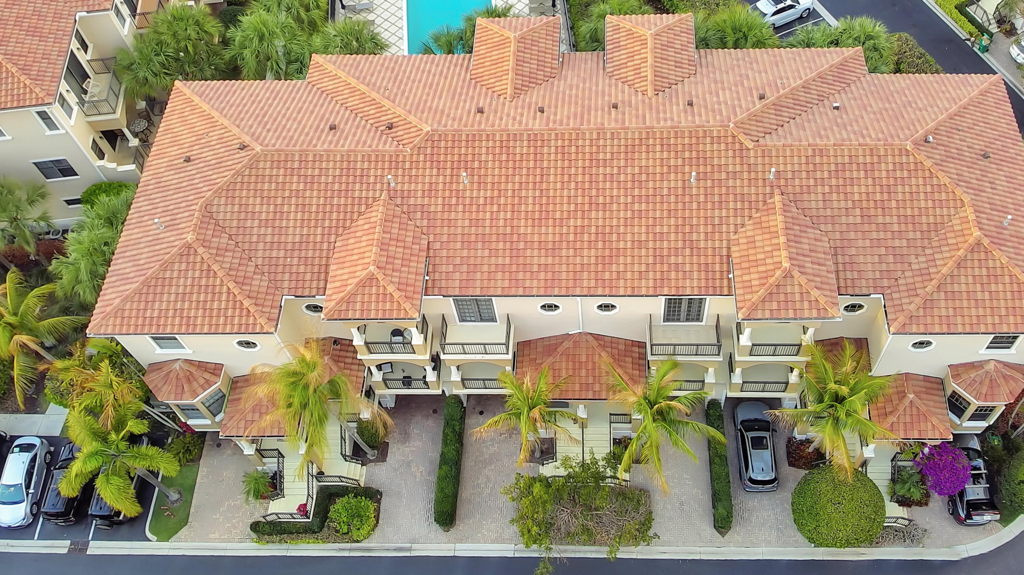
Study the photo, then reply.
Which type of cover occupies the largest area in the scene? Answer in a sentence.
For the most part, this view shows buildings.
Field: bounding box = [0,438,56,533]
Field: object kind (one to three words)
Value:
car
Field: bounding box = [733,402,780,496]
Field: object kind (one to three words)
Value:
car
